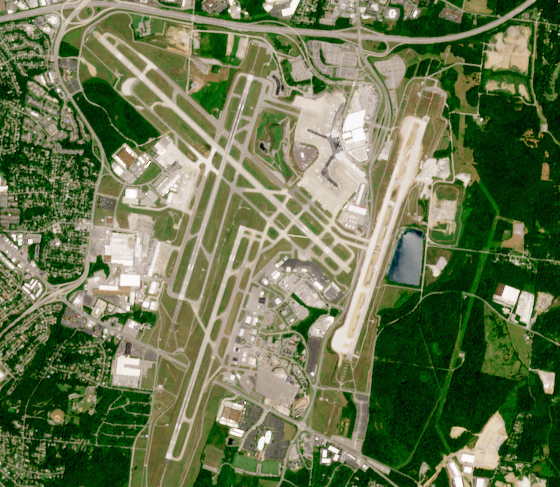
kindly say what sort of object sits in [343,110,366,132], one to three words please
building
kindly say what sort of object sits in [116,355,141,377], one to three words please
building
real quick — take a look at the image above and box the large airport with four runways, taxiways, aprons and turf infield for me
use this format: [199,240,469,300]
[82,14,428,487]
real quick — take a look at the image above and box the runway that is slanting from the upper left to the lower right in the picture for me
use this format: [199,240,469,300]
[97,35,347,272]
